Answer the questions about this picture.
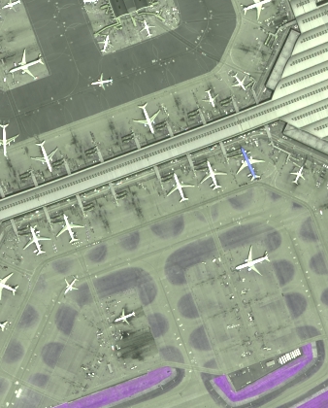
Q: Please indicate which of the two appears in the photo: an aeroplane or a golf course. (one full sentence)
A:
The image shows an aeroplane.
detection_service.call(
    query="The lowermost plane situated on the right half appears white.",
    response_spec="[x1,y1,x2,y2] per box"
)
[236,241,273,274]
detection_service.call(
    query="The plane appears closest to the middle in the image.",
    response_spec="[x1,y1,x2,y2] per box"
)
[169,174,197,202]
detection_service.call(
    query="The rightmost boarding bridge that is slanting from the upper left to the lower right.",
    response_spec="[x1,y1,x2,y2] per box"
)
[266,127,301,168]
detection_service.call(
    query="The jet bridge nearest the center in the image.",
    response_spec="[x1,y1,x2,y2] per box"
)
[154,167,174,182]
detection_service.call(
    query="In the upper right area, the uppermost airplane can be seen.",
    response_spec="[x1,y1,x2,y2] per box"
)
[242,0,270,19]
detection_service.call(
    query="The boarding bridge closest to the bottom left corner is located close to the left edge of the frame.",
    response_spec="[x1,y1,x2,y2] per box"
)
[10,220,30,237]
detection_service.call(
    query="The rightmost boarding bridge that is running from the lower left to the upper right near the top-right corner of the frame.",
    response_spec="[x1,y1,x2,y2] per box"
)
[265,20,297,45]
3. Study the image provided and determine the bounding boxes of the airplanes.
[66,278,79,292]
[201,86,218,106]
[3,0,22,10]
[24,226,53,255]
[58,215,86,243]
[9,46,45,76]
[116,305,136,324]
[132,102,159,133]
[236,241,273,274]
[141,21,155,37]
[28,138,58,171]
[169,174,197,202]
[96,36,112,52]
[91,71,114,90]
[0,122,19,156]
[242,0,270,19]
[237,74,249,91]
[0,274,20,302]
[203,161,229,189]
[237,147,268,181]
